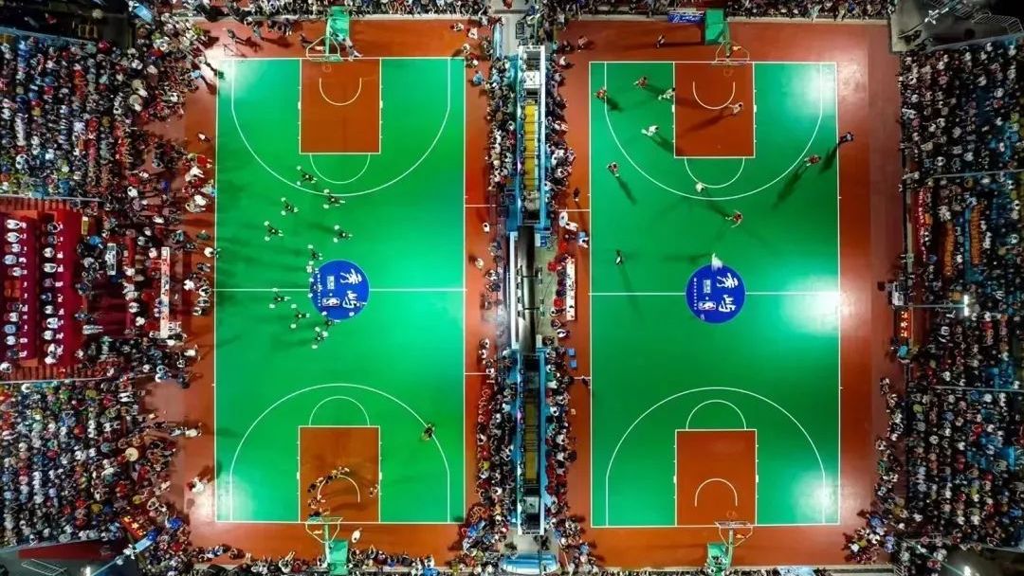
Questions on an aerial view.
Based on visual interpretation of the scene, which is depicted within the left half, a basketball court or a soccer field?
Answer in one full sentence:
There is a basketball court within the left half.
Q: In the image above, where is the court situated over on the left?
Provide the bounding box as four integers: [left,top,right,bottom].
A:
[214,58,497,522]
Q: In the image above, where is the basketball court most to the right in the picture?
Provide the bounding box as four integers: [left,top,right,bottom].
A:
[566,62,841,527]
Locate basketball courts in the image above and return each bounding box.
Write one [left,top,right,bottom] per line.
[214,58,497,522]
[566,62,841,527]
